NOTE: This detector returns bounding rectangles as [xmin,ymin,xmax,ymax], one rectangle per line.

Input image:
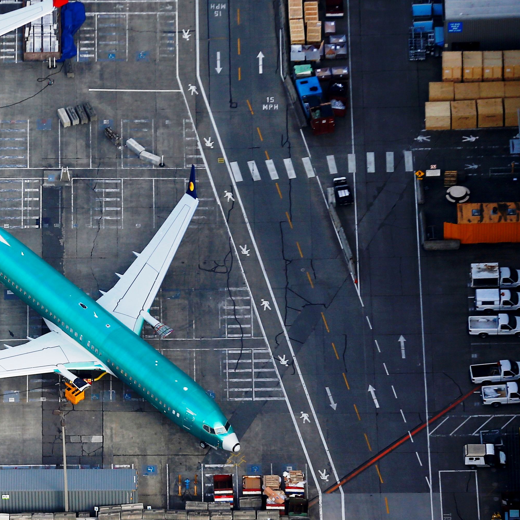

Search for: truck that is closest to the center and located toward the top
[330,171,359,209]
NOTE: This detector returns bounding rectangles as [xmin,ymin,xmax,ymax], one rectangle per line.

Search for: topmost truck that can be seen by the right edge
[467,259,520,291]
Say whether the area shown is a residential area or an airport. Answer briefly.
airport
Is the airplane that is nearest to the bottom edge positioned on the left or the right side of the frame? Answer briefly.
left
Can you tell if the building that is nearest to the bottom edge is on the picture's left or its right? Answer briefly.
right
